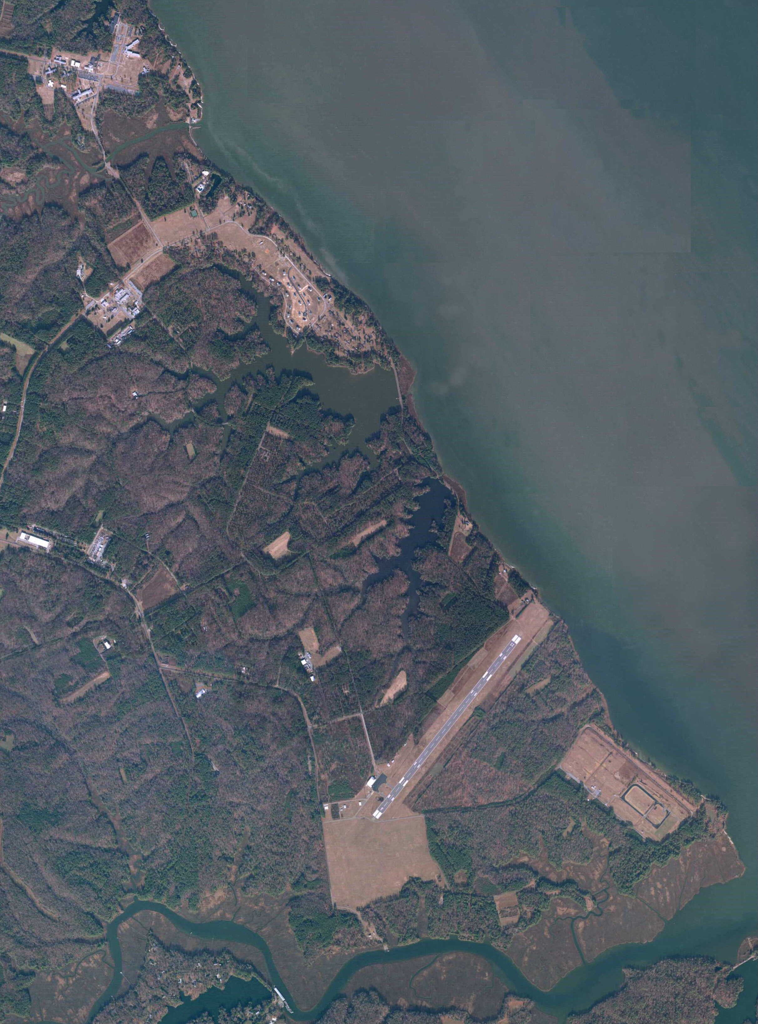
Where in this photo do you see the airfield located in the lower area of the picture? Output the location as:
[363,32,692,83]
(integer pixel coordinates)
[356,602,553,821]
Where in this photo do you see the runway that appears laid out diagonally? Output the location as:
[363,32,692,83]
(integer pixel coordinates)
[372,633,523,820]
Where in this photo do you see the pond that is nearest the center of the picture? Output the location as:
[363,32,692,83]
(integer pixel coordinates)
[356,477,457,640]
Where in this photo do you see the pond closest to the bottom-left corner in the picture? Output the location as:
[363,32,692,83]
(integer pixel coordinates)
[158,975,272,1024]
